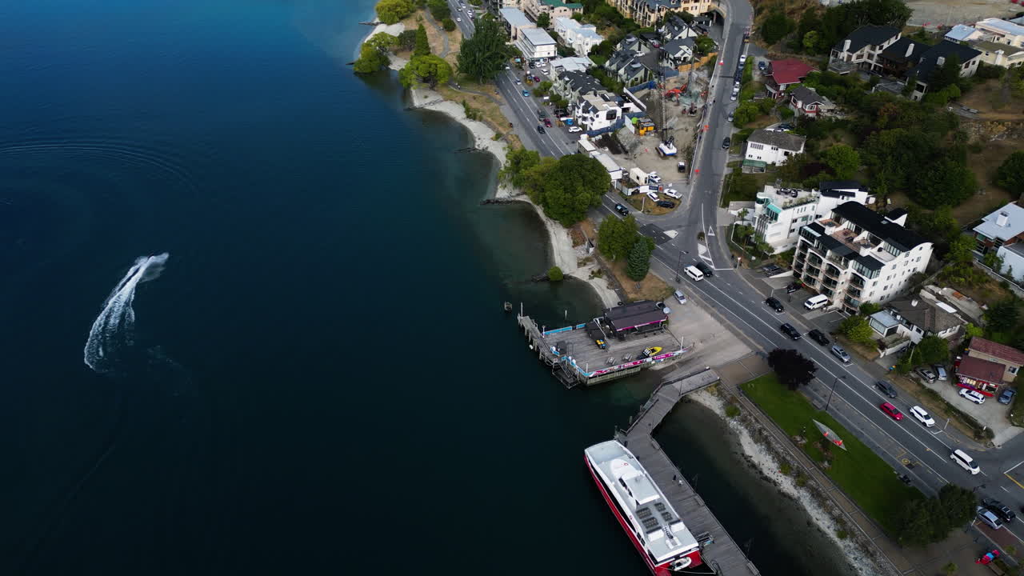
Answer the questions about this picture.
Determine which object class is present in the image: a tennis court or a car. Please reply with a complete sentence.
The image shows a car.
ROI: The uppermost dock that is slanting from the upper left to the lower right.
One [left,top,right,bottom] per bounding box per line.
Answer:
[517,303,583,391]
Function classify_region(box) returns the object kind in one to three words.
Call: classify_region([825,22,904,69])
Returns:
house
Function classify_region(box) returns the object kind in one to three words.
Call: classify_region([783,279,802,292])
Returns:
vehicle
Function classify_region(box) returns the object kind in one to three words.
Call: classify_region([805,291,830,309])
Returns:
vehicle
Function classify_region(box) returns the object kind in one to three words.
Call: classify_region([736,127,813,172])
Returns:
house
